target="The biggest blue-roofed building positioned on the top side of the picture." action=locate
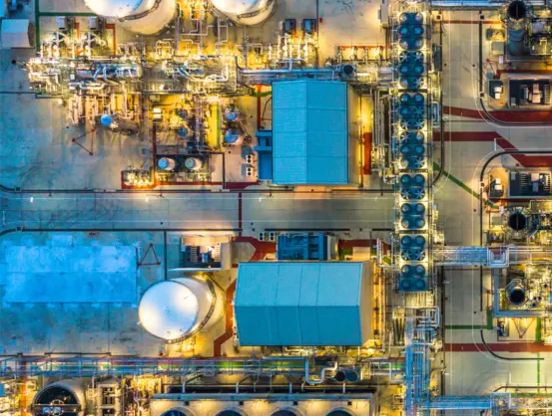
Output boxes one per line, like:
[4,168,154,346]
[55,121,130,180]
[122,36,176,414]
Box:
[270,76,357,186]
